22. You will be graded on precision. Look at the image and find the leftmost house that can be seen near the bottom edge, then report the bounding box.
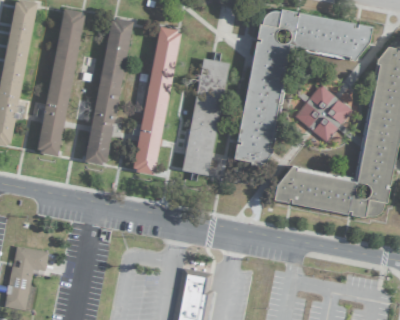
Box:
[0,246,54,310]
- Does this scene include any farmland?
No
